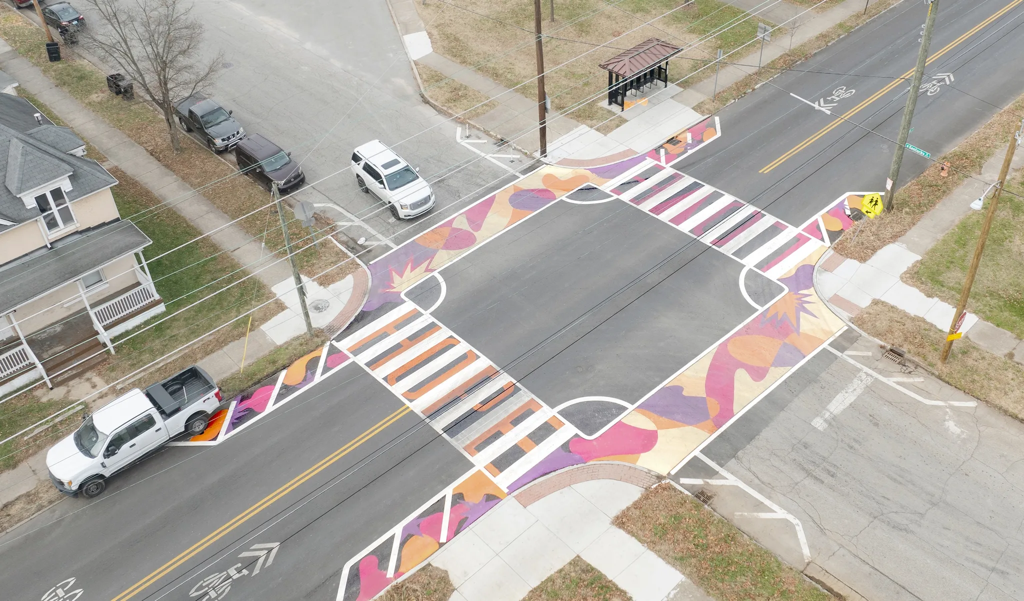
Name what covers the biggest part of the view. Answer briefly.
paved ground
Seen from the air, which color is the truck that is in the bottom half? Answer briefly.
white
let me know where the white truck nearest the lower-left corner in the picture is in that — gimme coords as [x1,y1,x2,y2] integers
[42,364,227,502]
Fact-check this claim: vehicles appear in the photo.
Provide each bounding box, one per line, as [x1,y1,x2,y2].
[43,0,89,28]
[42,364,227,502]
[175,95,251,155]
[352,140,442,221]
[233,131,310,195]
